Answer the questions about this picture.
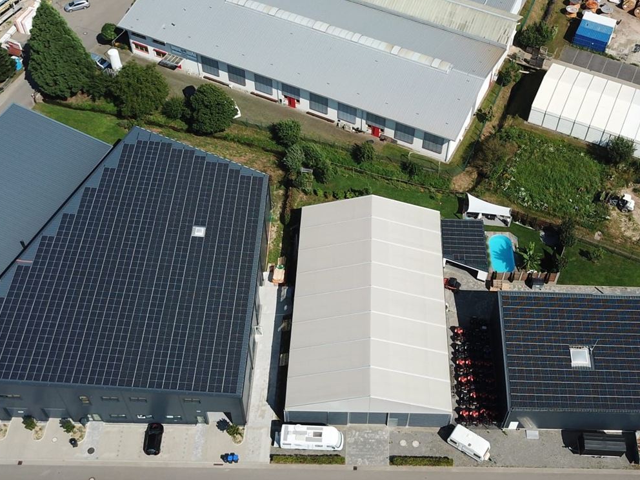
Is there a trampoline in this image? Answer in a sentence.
Yes, a trampoline appears in the view.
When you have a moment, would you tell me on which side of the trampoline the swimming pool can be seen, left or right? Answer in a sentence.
Compared with the trampoline, the swimming pool is located further to the left.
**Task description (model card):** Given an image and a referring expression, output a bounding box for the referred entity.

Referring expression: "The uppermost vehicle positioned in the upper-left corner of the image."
[60,0,92,13]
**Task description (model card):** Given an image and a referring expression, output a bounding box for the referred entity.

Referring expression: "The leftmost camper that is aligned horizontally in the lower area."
[278,419,344,450]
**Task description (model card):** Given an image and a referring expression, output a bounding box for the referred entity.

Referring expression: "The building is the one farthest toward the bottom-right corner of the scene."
[494,291,640,431]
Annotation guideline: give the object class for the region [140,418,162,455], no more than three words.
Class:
car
